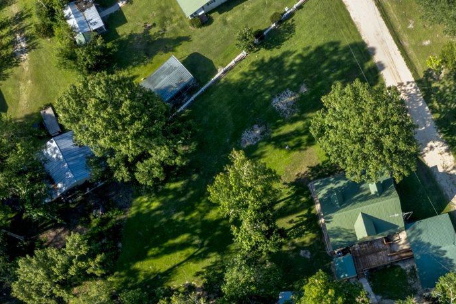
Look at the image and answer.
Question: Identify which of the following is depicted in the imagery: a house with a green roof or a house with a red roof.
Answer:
house with a green roof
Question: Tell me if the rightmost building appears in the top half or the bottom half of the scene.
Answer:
bottom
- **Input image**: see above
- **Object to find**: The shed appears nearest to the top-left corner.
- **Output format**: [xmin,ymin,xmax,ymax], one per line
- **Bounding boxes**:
[60,0,109,49]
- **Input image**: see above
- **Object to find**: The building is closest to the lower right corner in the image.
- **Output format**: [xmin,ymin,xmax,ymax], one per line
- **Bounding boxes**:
[404,212,456,288]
